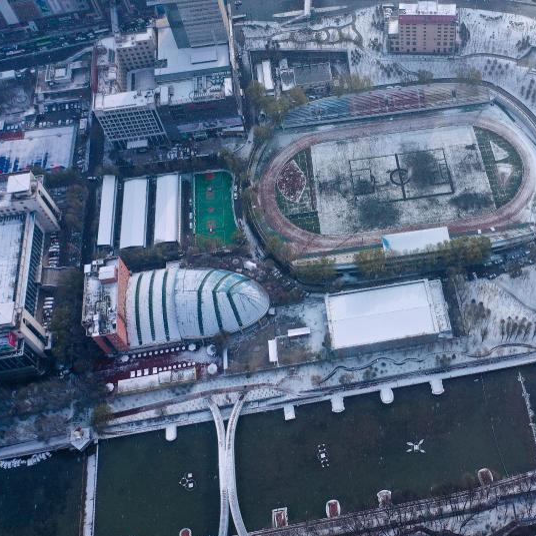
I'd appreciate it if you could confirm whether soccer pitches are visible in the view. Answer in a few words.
Yes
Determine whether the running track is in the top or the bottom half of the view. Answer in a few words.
top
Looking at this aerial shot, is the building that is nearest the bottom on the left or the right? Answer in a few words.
left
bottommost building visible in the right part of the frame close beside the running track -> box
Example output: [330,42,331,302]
[325,279,452,358]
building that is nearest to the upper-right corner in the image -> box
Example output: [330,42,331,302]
[398,0,458,52]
